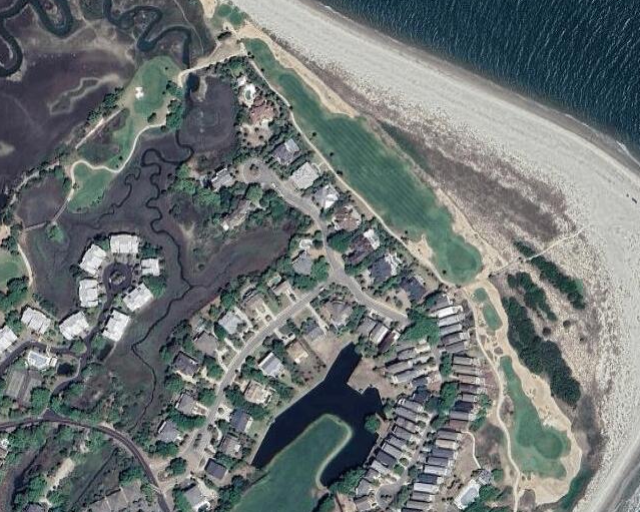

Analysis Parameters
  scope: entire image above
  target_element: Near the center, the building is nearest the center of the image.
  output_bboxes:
[294,251,315,275]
